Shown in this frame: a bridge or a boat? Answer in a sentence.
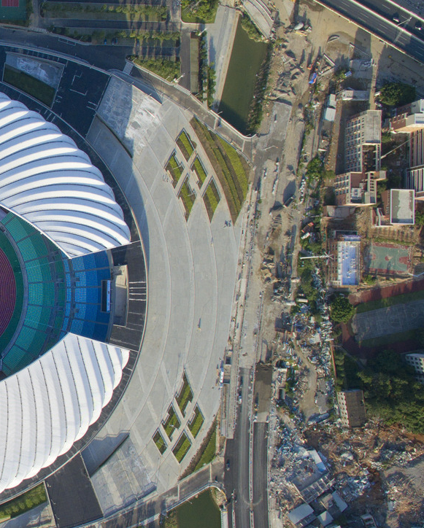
I can see a bridge in this picture.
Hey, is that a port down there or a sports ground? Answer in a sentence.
The area seen from above is a sports ground.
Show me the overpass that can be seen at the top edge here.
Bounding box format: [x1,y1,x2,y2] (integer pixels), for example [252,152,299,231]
[310,0,424,68]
